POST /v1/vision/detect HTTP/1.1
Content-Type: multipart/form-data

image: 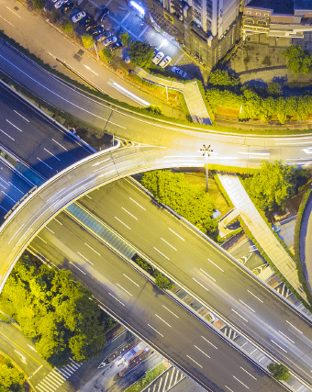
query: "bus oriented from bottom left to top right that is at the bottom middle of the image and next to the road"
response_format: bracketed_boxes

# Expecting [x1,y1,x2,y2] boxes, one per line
[117,337,148,362]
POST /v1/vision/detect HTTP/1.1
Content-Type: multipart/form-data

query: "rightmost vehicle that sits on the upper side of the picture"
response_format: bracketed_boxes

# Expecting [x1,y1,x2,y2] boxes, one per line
[171,65,186,78]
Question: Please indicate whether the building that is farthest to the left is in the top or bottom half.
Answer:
top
